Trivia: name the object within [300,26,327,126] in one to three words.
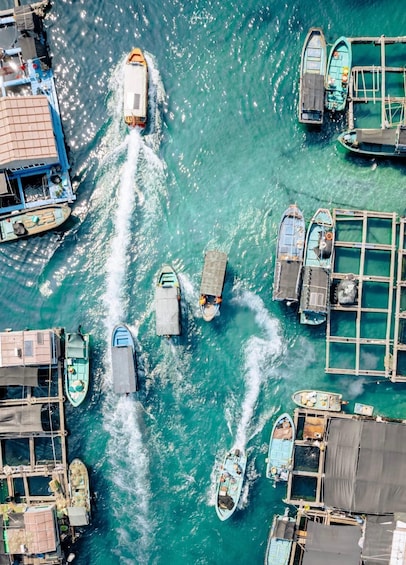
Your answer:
boat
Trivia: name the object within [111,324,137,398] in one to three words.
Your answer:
boat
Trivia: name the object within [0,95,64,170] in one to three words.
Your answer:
house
